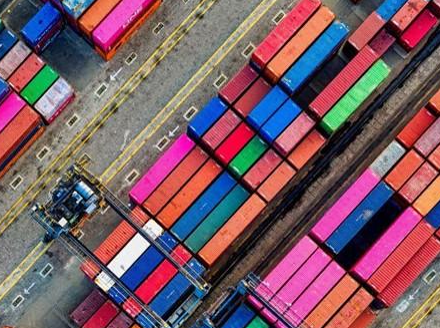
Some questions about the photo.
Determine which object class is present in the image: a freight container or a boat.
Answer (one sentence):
I can see a freight container in this picture.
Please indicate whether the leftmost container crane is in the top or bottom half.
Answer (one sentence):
The bottom half of the photo is where the leftmost container crane is.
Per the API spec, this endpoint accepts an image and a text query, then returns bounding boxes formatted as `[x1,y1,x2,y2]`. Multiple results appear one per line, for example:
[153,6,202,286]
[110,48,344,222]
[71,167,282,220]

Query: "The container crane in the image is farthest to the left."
[28,161,216,328]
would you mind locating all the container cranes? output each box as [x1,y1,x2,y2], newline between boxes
[28,161,216,328]
[196,276,311,328]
